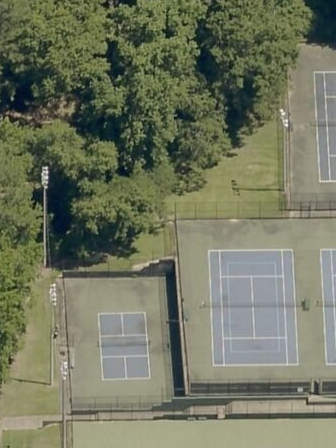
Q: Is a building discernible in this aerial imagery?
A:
No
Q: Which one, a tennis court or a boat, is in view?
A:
tennis court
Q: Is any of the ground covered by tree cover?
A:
Yes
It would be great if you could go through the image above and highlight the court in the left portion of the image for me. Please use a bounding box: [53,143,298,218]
[100,313,148,379]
